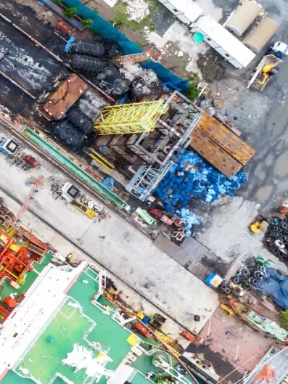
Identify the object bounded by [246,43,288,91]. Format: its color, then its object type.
white truck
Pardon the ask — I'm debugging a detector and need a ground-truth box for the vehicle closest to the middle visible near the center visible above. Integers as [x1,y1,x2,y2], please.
[150,205,176,227]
